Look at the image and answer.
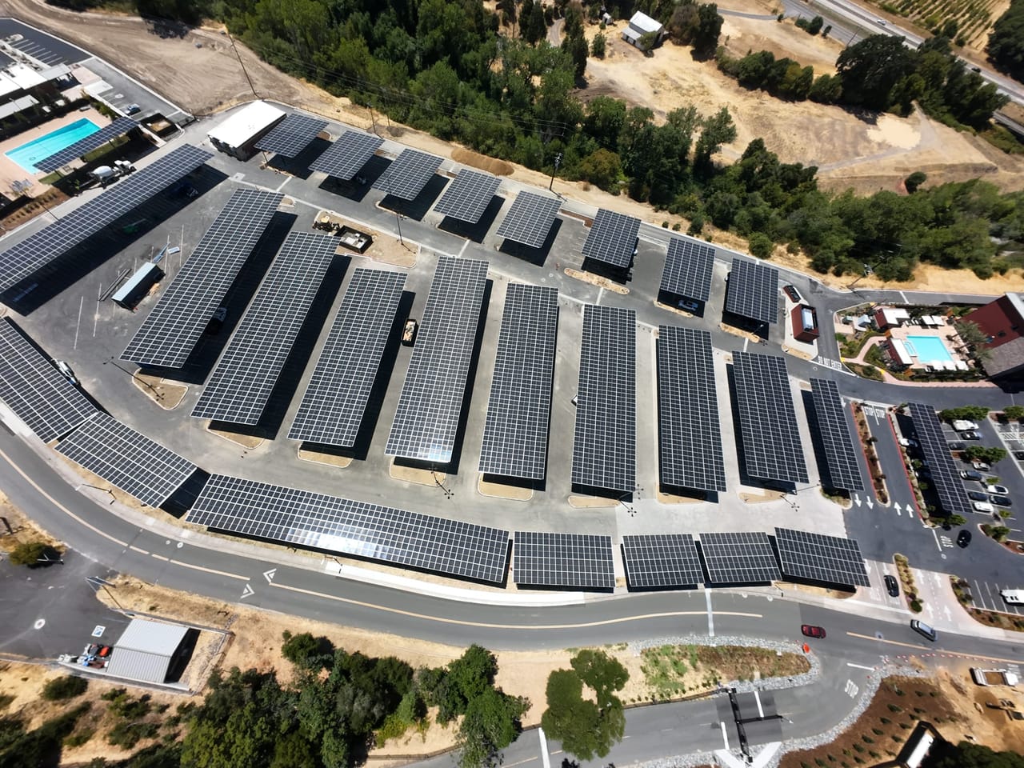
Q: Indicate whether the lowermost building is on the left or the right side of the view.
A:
right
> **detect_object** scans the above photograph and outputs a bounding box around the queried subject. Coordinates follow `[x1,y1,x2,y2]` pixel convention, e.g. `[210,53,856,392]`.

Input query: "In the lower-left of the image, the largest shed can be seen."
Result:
[106,618,201,682]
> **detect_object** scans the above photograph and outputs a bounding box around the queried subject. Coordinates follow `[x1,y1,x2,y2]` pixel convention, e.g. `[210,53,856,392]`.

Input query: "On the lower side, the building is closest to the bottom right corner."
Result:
[867,724,938,768]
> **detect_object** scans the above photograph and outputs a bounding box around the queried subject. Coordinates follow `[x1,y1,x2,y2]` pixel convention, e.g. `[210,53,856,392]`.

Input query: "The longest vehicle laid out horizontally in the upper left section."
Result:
[80,158,136,182]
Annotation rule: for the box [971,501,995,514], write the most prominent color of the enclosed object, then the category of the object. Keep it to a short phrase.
white vehicle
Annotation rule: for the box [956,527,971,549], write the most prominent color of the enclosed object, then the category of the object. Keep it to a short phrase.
black car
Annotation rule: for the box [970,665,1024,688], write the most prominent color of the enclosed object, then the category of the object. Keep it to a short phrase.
white truck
